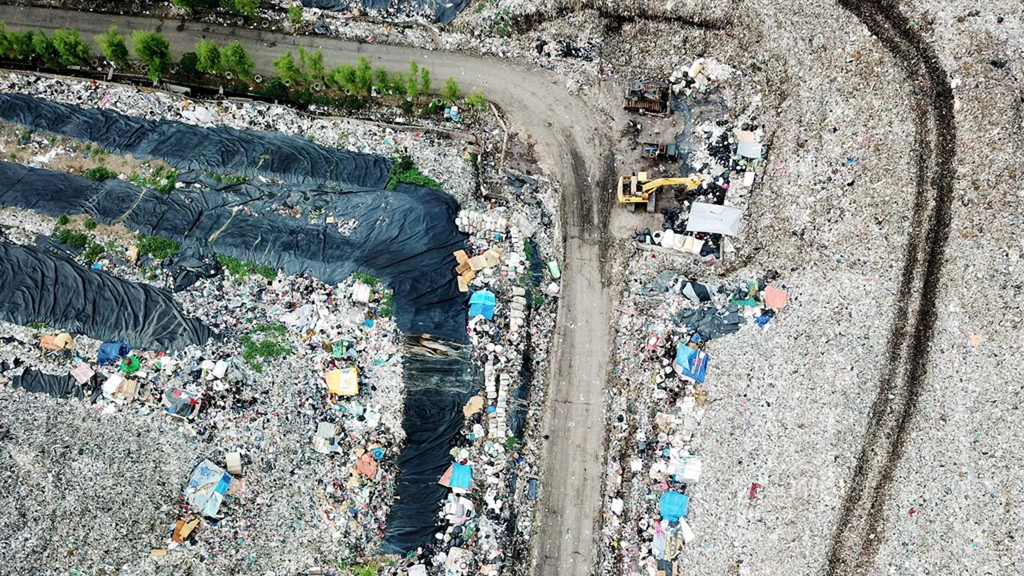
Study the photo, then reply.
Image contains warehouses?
No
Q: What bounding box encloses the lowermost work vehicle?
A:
[619,174,711,211]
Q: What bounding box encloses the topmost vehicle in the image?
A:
[624,84,673,117]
